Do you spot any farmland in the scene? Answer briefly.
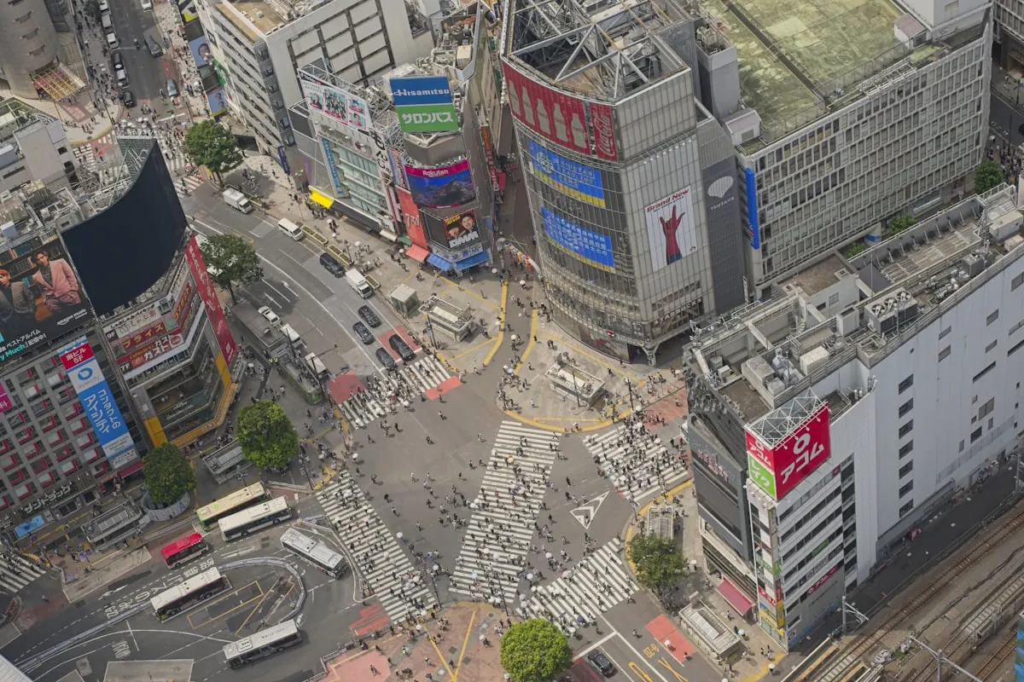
No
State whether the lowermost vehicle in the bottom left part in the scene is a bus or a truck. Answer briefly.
bus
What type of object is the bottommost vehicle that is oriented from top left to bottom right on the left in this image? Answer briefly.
bus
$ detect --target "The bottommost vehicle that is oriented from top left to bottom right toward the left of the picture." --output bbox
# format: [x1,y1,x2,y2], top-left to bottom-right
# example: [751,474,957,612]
[284,529,349,583]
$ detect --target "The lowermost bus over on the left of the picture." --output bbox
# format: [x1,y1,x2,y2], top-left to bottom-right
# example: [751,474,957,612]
[226,623,303,671]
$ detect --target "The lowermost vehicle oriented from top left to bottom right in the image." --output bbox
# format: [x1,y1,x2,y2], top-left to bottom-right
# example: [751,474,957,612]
[586,649,615,679]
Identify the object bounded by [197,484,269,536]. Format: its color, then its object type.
white bus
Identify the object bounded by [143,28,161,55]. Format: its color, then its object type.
gray vehicle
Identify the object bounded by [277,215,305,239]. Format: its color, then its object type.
white vehicle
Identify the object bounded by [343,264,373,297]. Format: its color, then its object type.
white truck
